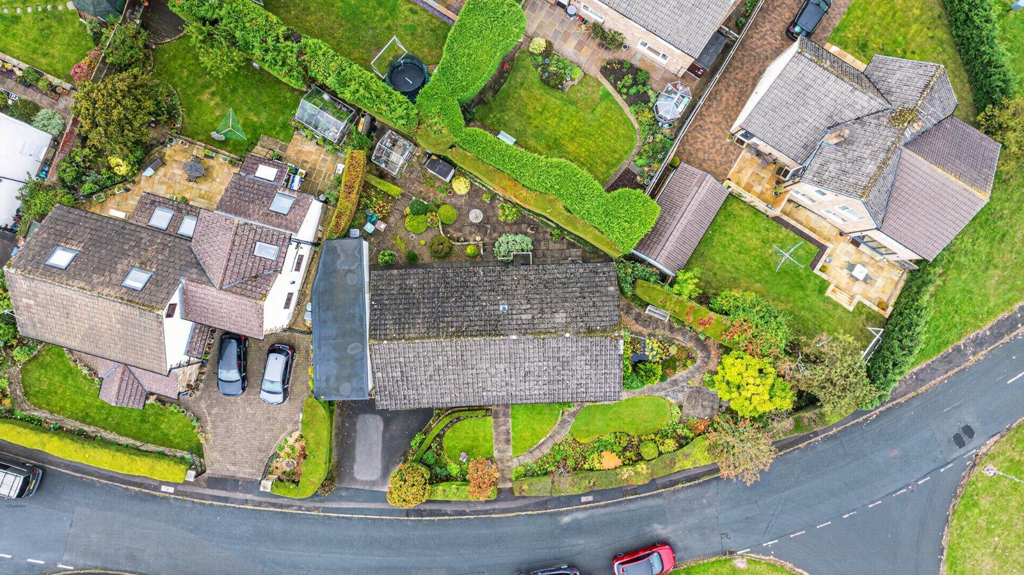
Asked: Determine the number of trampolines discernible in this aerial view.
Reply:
one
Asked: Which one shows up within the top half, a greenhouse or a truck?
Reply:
greenhouse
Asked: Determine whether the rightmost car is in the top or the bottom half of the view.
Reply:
top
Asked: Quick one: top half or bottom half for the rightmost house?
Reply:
top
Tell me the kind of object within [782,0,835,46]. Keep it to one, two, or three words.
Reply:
car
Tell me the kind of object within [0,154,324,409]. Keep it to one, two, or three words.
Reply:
house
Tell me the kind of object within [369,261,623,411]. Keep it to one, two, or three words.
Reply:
house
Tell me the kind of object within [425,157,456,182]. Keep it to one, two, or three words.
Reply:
shed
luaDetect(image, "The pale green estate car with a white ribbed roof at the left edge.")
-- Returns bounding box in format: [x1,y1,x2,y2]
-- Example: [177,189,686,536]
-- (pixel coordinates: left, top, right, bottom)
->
[0,458,42,498]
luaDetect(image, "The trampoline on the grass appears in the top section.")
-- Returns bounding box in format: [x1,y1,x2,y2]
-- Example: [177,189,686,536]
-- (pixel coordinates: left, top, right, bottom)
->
[382,46,430,96]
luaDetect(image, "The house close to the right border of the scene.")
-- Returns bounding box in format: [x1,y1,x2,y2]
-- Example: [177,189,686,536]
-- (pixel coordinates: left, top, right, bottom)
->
[730,35,1003,266]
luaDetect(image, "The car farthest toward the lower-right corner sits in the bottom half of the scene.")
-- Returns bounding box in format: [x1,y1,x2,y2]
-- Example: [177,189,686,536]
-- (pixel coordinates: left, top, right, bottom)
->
[610,539,676,575]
